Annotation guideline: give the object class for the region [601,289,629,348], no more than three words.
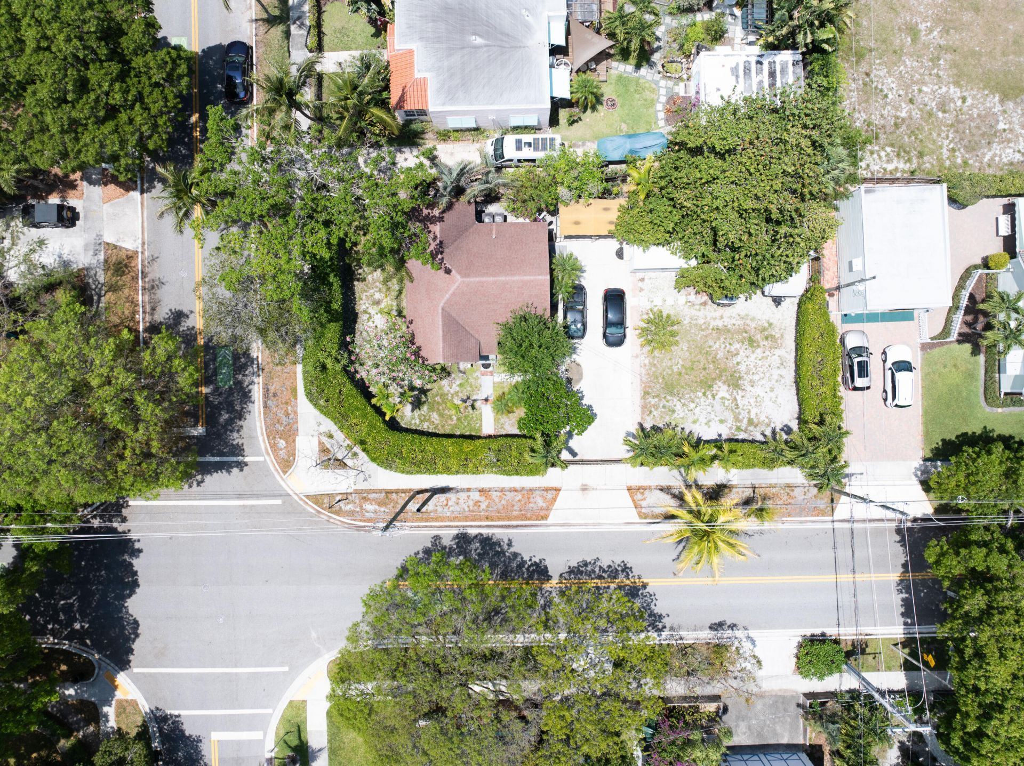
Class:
car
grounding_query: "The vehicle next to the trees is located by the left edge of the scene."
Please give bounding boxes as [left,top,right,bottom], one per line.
[24,203,76,229]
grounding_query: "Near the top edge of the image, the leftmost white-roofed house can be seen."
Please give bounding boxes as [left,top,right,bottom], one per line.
[387,0,570,139]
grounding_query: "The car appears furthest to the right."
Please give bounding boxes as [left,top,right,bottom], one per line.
[880,345,915,407]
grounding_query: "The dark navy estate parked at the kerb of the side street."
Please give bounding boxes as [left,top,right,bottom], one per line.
[222,42,254,104]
